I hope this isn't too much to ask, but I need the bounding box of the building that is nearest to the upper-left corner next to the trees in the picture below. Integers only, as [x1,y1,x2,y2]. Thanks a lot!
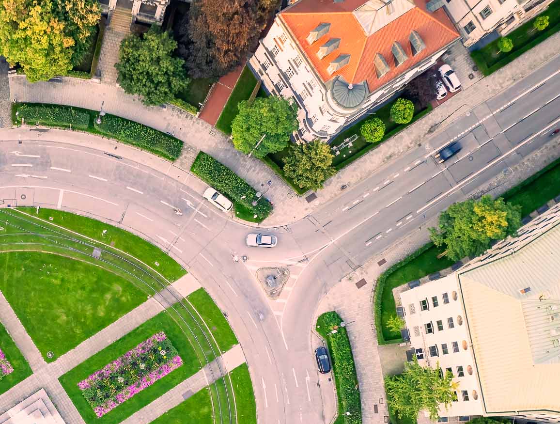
[89,0,170,38]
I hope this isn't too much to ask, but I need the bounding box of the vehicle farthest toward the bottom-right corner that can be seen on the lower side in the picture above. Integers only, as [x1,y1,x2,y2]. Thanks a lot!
[315,347,329,374]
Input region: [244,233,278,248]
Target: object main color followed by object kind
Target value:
white car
